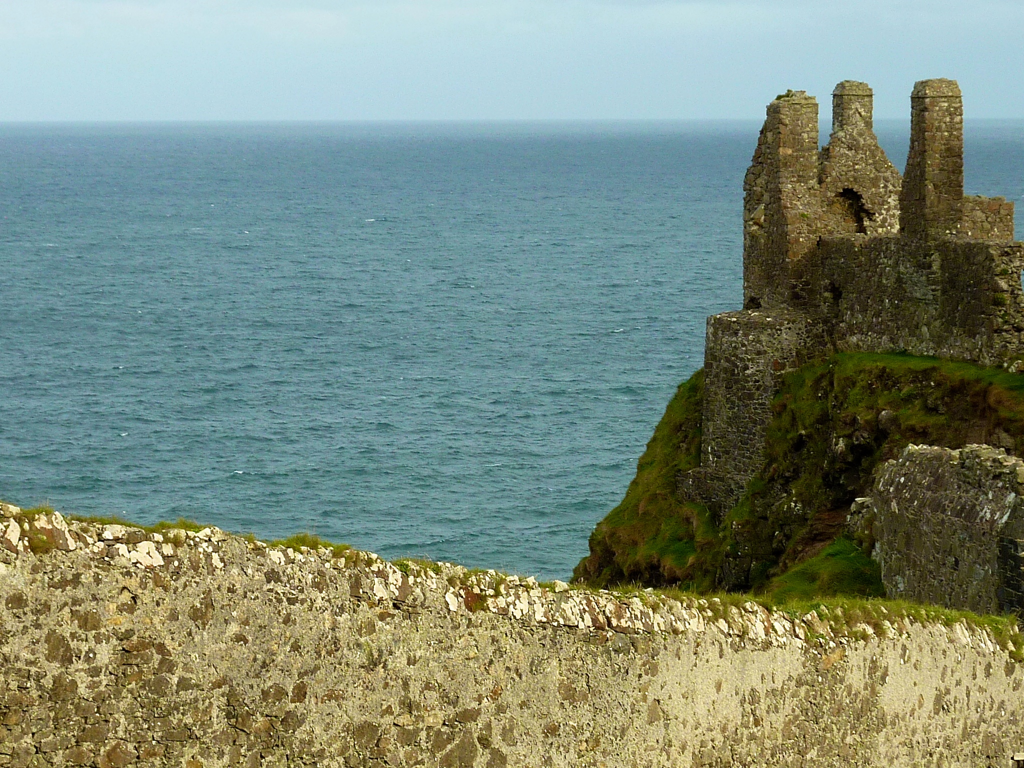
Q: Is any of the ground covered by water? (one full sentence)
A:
Yes, there is water in the image.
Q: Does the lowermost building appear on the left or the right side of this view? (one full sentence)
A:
The lowermost building is on the right side of the image.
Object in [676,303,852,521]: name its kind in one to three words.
building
